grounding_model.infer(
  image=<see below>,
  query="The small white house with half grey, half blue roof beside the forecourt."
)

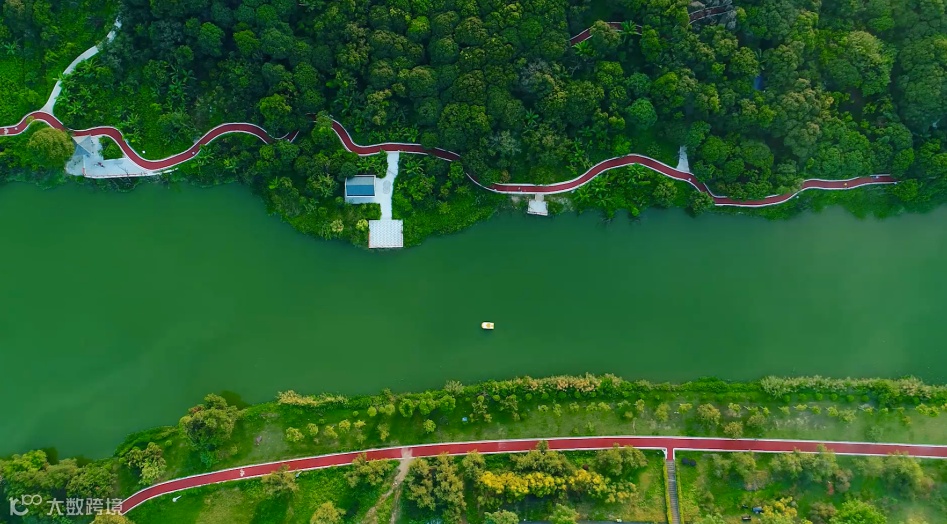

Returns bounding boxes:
[345,175,377,198]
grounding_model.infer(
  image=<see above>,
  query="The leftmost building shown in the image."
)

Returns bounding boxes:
[72,137,95,156]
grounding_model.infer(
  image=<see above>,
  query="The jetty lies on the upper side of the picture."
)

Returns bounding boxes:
[527,196,548,215]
